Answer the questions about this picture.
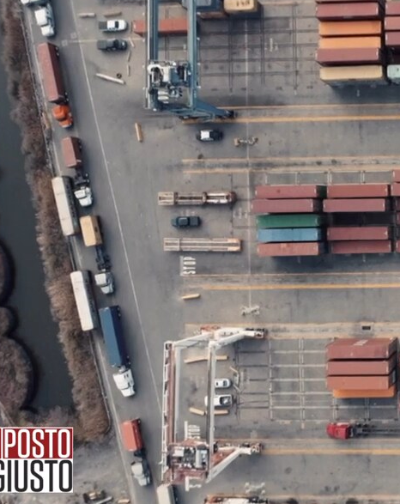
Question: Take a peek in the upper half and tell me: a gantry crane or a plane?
gantry crane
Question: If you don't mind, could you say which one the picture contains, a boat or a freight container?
freight container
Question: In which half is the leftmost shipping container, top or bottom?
top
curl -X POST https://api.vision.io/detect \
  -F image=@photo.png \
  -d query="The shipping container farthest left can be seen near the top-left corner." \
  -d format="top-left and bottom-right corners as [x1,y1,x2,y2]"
[38,42,68,104]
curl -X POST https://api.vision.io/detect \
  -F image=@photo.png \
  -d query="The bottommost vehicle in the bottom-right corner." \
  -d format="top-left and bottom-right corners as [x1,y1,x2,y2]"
[327,421,400,438]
